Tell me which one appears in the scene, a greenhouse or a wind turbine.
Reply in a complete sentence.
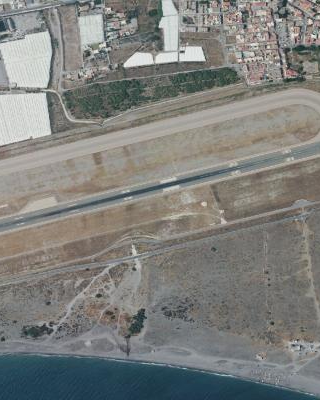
It is a greenhouse that can be seen here.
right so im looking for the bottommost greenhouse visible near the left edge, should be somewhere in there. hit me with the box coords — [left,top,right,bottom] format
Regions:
[0,93,51,145]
